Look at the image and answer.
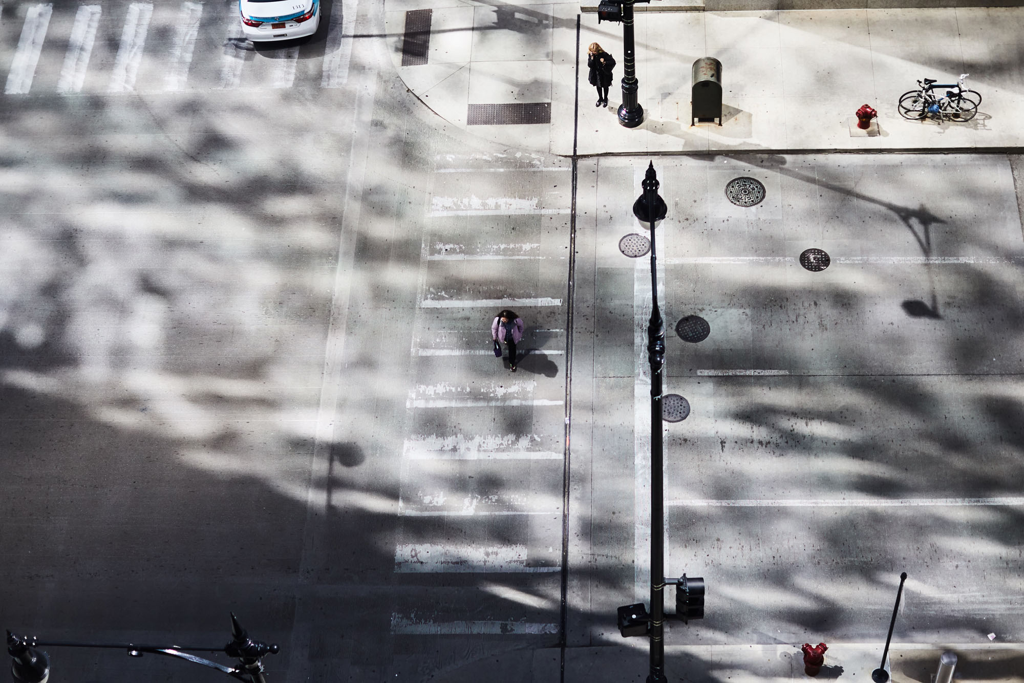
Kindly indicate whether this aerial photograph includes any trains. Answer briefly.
No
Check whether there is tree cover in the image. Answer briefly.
No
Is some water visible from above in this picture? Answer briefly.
No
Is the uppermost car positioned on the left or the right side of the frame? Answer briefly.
left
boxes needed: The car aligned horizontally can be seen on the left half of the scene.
[236,0,329,43]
